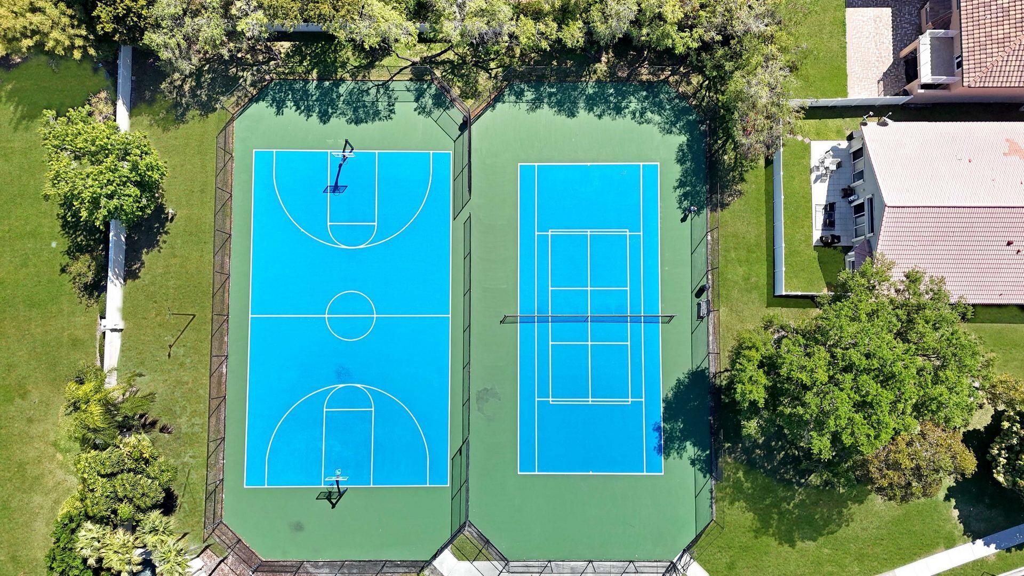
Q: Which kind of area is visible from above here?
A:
sports ground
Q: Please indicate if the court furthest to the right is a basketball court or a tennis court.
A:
tennis court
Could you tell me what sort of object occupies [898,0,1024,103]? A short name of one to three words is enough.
house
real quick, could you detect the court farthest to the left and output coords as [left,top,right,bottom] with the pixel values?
[224,81,469,560]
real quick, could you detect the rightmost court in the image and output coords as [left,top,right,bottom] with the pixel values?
[469,83,713,560]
